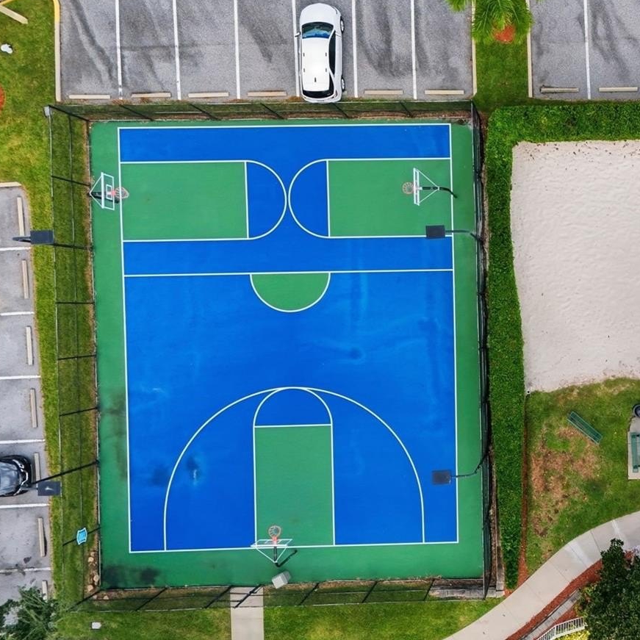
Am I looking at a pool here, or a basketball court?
basketball court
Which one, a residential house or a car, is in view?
car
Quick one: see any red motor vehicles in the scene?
No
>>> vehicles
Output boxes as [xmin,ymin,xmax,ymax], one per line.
[0,453,34,498]
[290,3,344,102]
